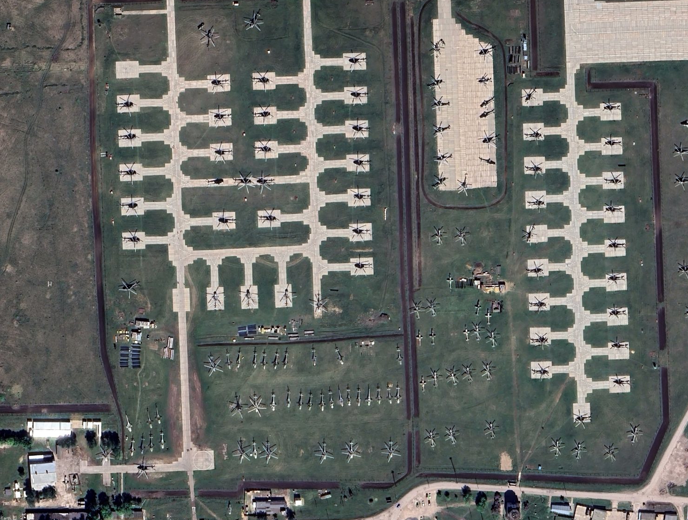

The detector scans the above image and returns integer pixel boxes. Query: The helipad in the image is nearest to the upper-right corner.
[600,104,622,121]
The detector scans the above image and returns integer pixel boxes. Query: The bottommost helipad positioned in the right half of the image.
[572,403,590,422]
